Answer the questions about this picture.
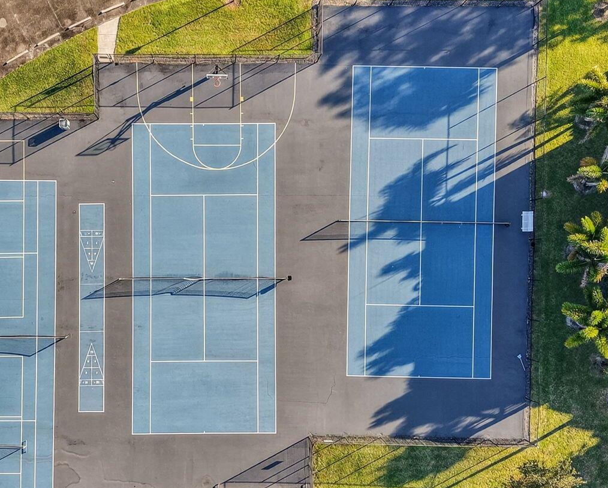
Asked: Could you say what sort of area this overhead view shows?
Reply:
sports ground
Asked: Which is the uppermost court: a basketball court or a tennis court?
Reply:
basketball court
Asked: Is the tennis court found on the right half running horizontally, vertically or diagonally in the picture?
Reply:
vertically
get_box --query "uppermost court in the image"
[137,62,296,170]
